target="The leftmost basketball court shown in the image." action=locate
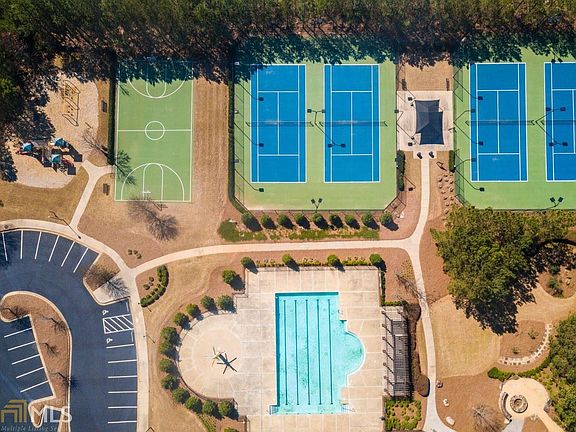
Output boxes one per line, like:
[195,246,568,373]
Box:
[114,61,194,201]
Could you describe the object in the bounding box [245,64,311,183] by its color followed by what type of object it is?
blue tennis court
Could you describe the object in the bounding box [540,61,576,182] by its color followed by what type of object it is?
blue tennis court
